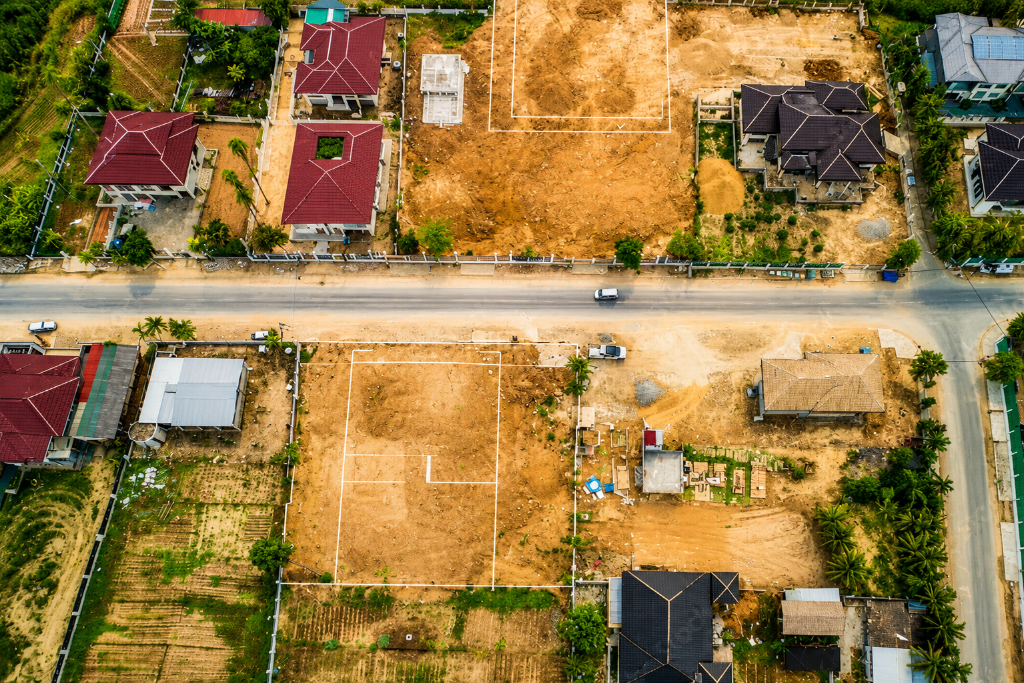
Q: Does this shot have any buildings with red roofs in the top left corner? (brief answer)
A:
Yes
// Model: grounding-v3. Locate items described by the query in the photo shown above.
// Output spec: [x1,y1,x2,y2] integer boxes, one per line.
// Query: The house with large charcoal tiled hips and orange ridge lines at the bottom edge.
[607,571,739,683]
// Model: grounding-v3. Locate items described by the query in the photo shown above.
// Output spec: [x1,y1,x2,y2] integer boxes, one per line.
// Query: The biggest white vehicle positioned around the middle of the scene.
[589,346,625,360]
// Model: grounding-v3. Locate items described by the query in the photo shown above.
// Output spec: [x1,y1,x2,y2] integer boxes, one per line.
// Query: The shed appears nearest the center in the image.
[635,417,683,496]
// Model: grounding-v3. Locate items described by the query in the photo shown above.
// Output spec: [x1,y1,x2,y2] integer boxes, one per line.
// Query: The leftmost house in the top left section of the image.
[83,111,218,209]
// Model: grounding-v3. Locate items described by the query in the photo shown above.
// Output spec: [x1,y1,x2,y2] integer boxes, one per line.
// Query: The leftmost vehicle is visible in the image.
[30,321,58,334]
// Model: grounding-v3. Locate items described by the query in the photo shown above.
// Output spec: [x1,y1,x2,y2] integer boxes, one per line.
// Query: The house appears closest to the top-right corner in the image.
[919,12,1024,102]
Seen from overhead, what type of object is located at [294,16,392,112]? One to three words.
house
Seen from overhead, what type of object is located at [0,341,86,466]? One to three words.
house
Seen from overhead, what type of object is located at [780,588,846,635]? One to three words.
barn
